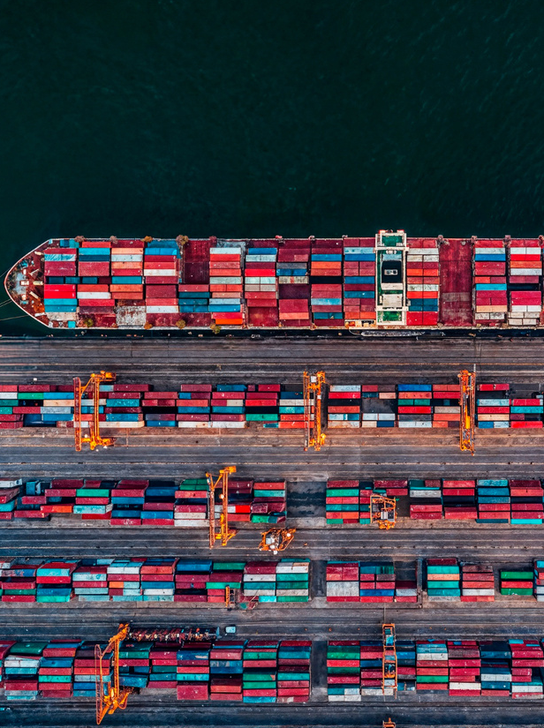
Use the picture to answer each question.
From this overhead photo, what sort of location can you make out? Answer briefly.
port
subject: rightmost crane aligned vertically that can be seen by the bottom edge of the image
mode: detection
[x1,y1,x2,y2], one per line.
[381,624,404,701]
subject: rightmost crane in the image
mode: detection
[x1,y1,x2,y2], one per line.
[452,374,478,452]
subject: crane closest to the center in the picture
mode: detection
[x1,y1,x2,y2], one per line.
[303,374,333,449]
